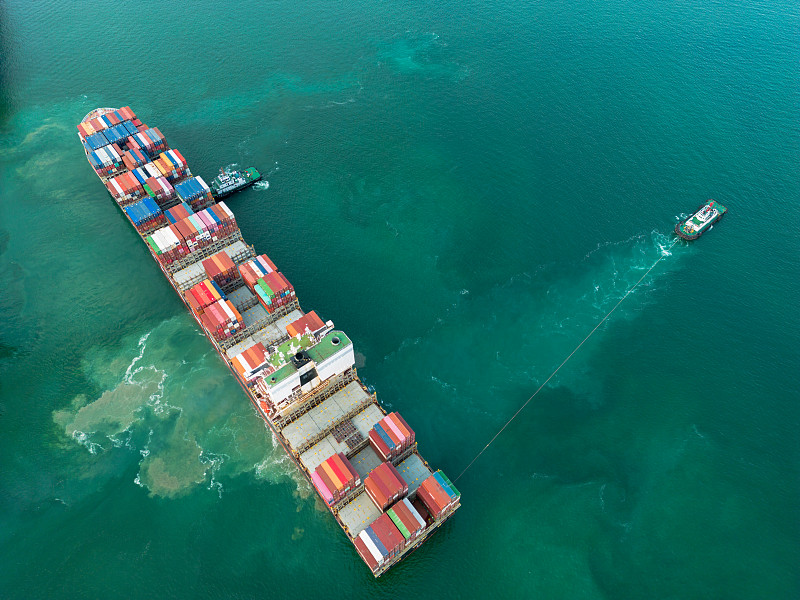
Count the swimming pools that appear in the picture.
zero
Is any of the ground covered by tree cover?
No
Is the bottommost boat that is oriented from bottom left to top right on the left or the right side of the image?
right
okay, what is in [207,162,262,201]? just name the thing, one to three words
boat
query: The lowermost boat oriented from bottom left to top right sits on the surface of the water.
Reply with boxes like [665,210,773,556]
[675,196,727,240]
